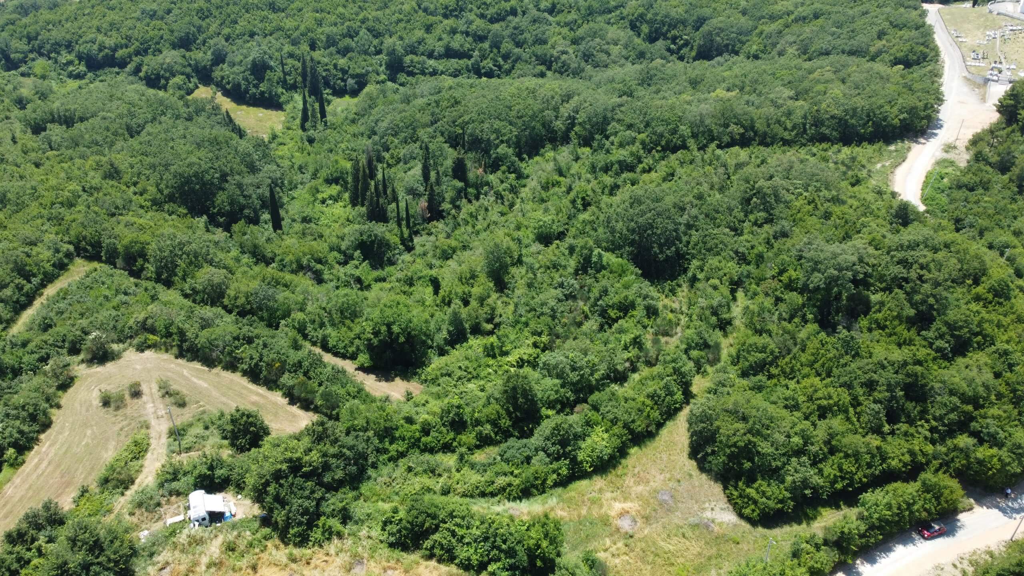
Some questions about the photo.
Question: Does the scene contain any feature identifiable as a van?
Yes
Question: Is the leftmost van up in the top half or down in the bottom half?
bottom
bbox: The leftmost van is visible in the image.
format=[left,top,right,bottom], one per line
[187,489,228,527]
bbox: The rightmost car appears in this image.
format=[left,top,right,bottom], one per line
[921,518,951,537]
